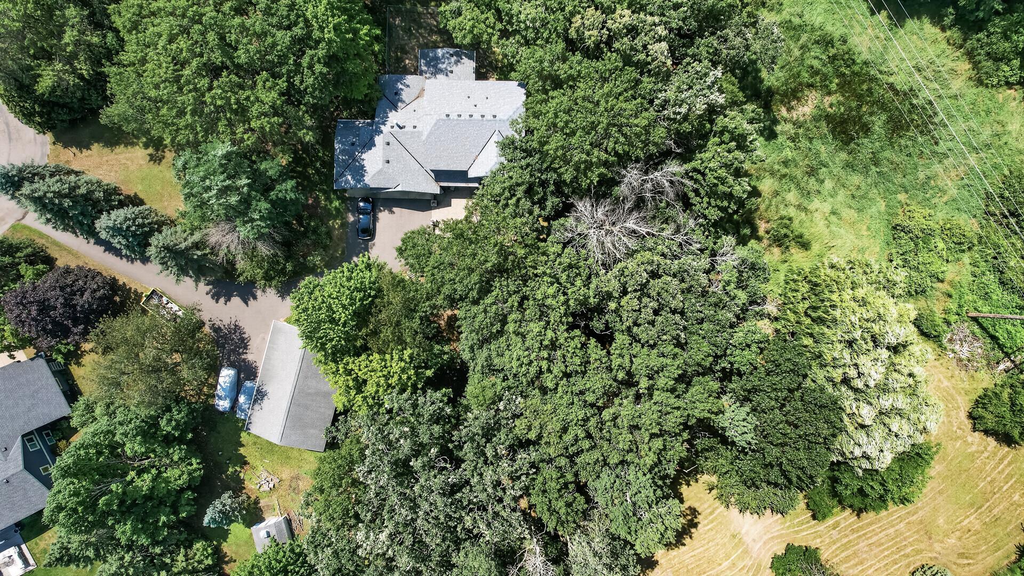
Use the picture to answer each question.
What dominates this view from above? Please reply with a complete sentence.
The scene is dominated by trees.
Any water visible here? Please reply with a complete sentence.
No, the picture contains no water.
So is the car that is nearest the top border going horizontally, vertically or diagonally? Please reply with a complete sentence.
The car that is nearest the top border is oriented vertically.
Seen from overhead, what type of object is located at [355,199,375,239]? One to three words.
car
